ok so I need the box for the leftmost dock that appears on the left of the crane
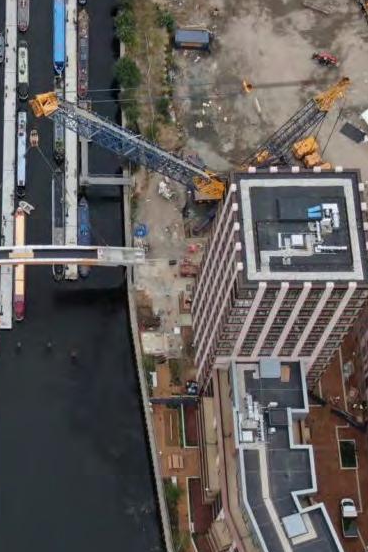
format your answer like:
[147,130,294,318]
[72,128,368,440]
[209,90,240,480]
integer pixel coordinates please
[0,0,17,330]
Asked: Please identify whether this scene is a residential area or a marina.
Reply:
marina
